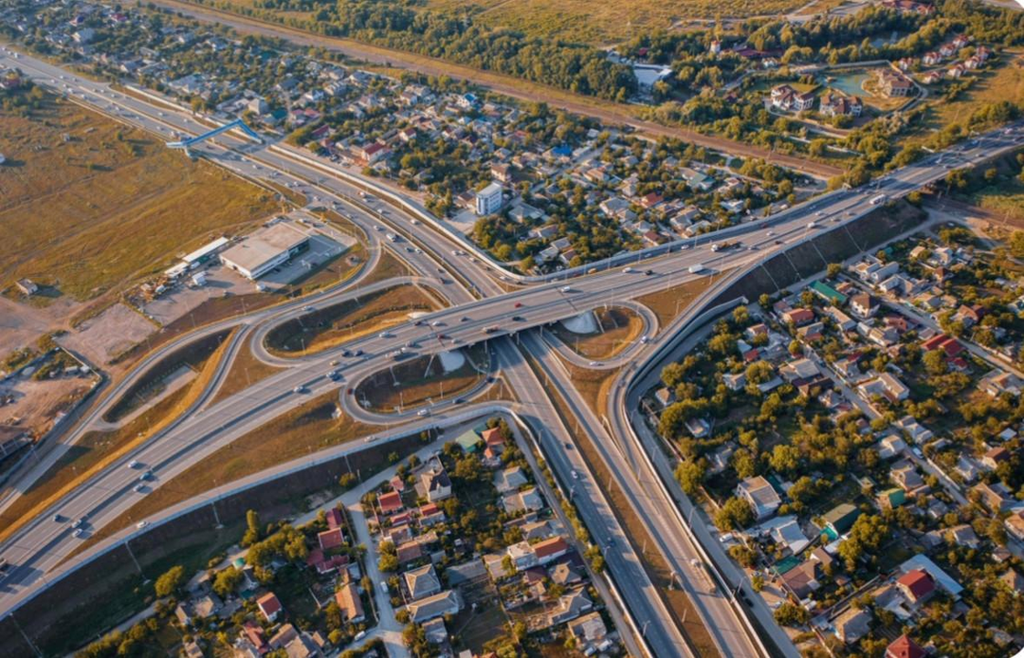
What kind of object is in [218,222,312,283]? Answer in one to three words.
building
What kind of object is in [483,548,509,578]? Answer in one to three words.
house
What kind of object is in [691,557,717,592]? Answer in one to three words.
truck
